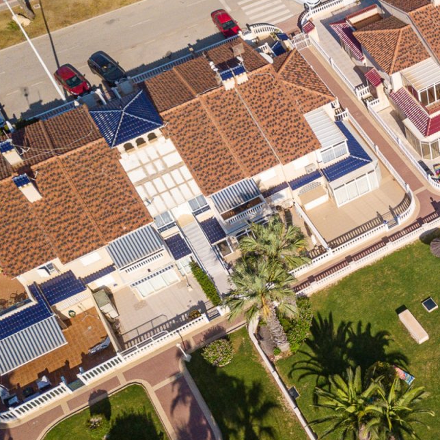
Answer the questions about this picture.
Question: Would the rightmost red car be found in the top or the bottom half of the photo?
top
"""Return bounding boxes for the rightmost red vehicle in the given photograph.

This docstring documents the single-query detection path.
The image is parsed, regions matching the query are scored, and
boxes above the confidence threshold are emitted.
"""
[205,4,247,42]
